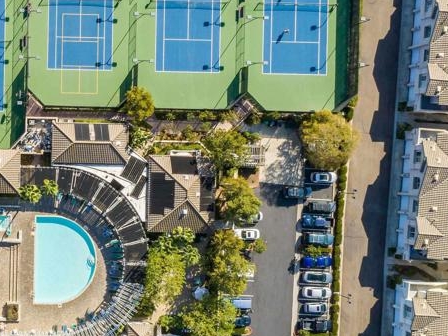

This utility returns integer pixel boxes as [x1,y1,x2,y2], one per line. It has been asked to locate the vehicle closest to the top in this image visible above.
[308,170,337,184]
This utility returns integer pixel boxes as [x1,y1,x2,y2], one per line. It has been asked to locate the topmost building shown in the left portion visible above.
[51,121,129,165]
